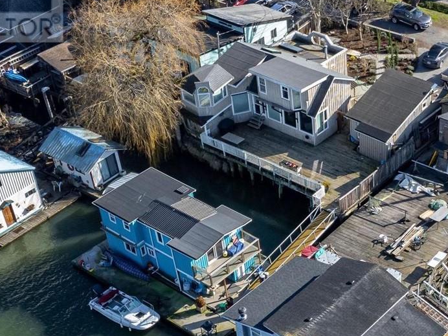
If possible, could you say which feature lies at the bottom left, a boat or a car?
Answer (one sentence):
What appears at the bottom left is a boat.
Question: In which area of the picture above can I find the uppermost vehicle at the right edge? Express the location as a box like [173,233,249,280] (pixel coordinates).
[388,0,434,29]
